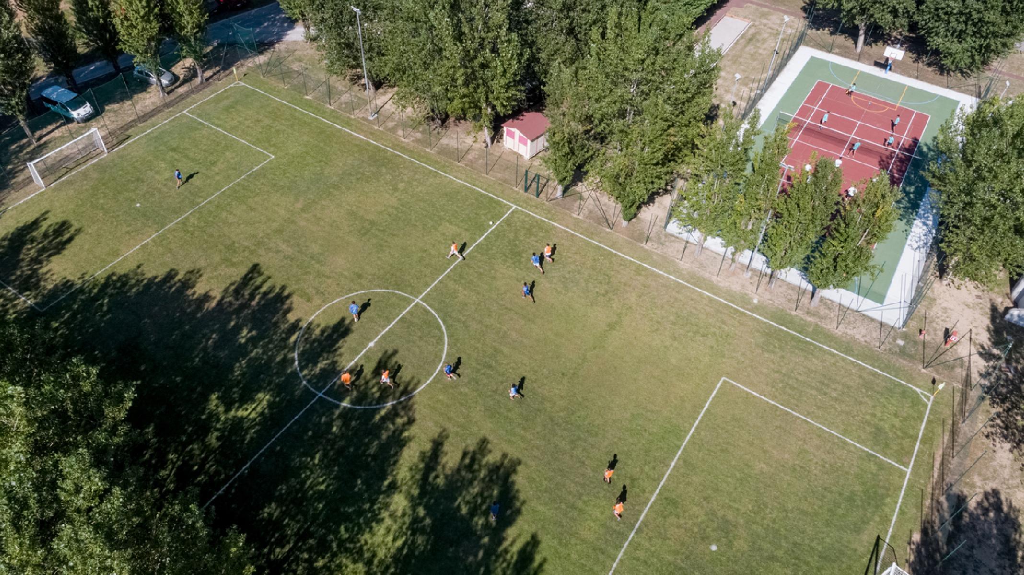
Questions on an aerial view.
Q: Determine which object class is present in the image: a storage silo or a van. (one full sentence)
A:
Looking from above, you can make out a van.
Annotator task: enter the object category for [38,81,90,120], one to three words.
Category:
van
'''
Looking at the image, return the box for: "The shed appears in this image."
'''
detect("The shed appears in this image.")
[501,113,549,158]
